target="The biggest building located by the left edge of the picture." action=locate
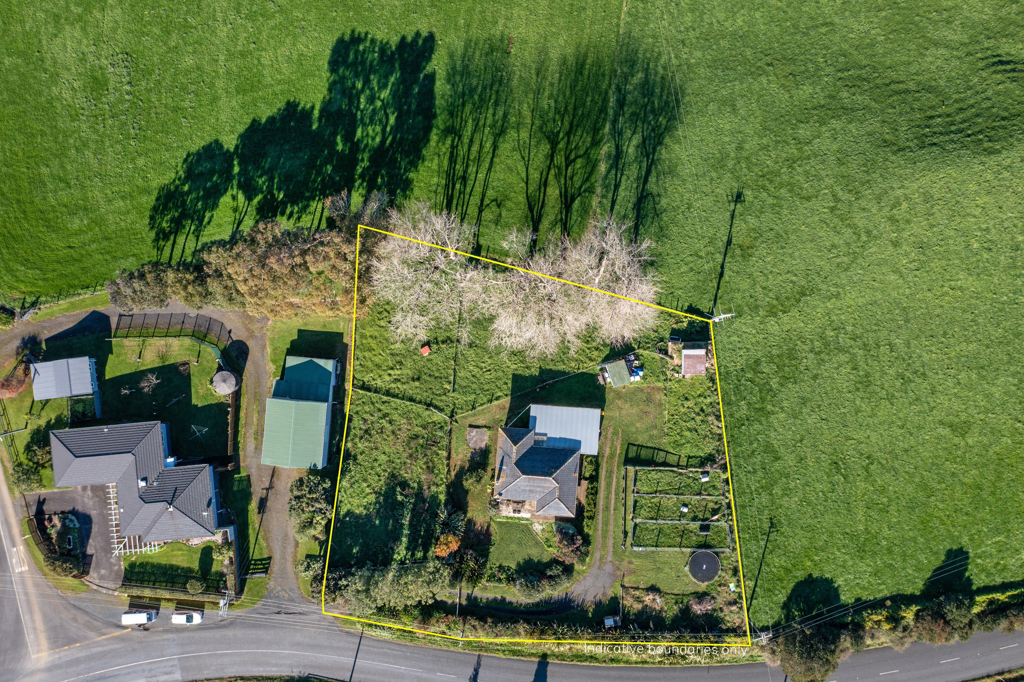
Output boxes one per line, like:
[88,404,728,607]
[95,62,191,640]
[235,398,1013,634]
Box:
[49,421,219,543]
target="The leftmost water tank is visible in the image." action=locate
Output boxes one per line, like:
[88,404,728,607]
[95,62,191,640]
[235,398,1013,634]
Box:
[213,371,239,394]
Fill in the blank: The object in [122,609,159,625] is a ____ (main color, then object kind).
white vehicle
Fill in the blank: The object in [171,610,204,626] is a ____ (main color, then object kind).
white car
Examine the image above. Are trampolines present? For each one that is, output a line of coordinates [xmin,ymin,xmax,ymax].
[688,551,721,584]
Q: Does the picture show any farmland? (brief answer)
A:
Yes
